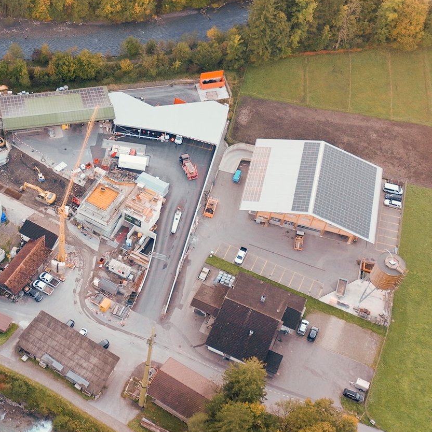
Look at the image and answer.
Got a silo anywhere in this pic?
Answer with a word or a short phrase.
Yes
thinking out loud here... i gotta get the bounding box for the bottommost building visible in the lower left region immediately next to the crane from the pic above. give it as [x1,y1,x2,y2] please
[18,311,120,397]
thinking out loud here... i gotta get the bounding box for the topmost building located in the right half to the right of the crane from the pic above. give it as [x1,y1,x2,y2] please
[240,137,381,249]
